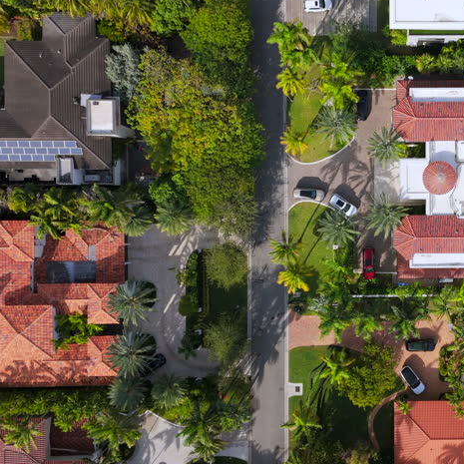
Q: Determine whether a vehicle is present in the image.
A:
Yes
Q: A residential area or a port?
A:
residential area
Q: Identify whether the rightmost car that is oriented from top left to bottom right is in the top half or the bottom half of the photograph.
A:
bottom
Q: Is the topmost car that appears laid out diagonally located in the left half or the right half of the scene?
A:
right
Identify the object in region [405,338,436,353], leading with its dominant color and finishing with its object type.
black car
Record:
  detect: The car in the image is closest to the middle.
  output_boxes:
[294,189,326,203]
